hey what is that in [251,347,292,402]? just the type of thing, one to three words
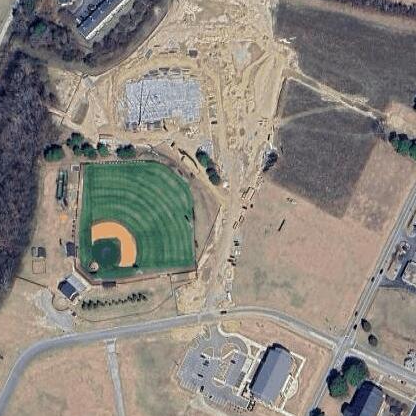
building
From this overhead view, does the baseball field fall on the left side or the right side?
left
